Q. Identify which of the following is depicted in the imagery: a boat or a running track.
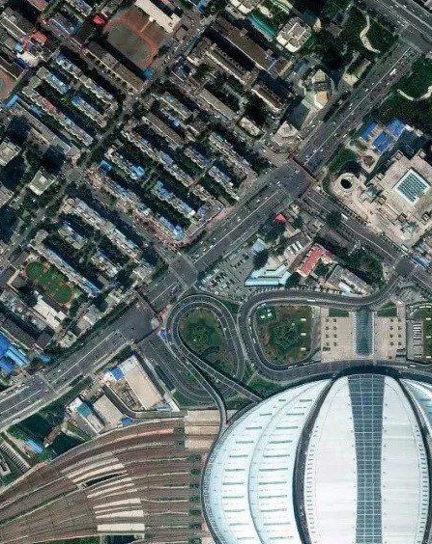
running track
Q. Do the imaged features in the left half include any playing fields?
Yes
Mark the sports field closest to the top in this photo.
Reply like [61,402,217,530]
[109,21,155,67]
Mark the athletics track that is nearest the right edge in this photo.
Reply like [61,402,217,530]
[105,18,158,70]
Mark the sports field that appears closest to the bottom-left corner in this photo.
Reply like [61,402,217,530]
[21,260,82,313]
